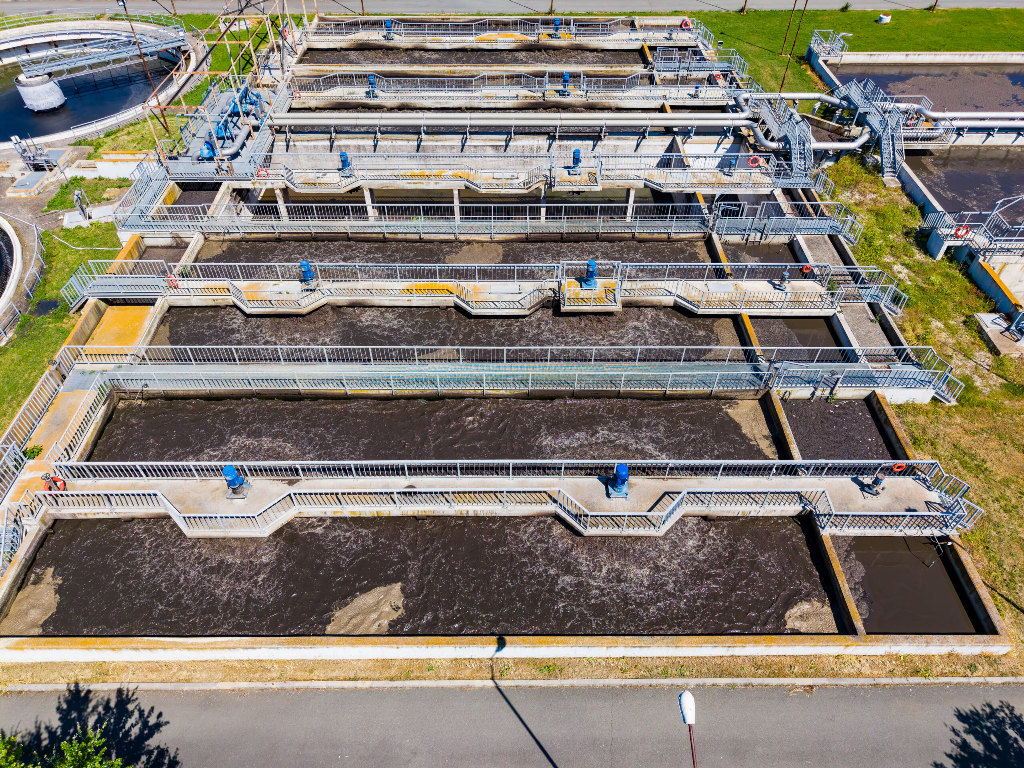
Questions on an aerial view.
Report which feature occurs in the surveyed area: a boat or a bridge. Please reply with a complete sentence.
The image shows a bridge.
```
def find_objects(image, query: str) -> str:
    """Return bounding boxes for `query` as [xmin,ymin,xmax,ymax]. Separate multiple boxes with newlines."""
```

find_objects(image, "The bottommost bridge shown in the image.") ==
[31,477,960,542]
